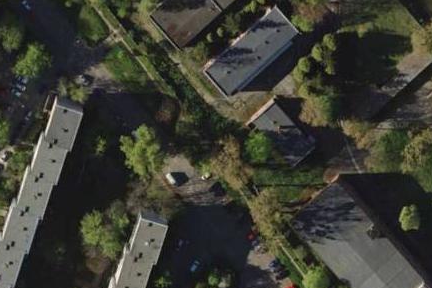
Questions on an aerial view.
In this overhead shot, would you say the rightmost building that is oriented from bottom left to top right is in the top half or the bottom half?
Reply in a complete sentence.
The rightmost building that is oriented from bottom left to top right sits in the top half of the picture.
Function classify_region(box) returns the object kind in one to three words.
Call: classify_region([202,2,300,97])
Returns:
building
